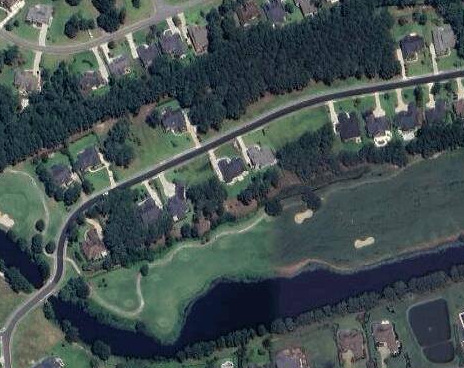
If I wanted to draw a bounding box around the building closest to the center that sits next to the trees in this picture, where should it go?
[217,155,245,183]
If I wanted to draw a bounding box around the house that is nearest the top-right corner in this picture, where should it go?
[435,24,455,53]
